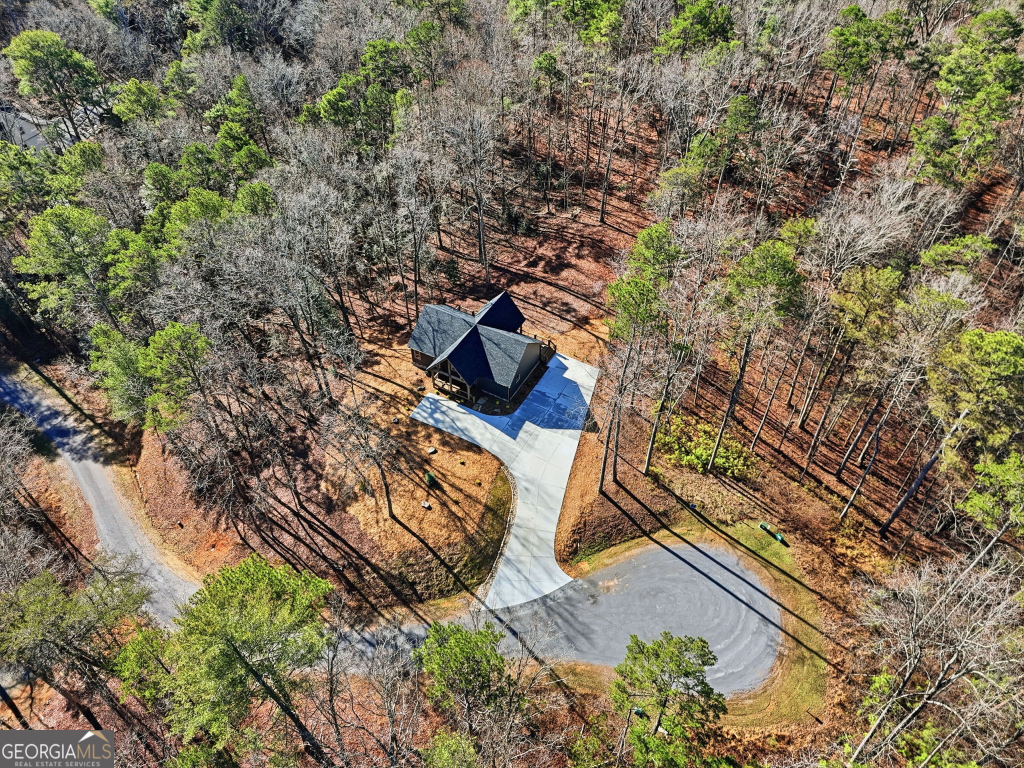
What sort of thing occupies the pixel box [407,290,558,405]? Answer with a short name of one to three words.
house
